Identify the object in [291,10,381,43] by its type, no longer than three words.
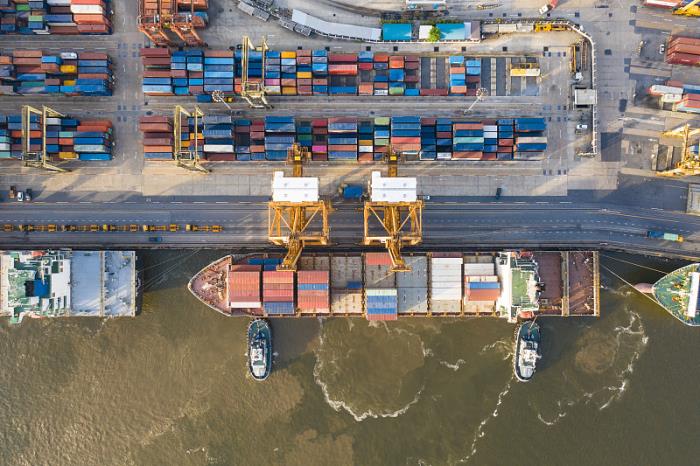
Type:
shed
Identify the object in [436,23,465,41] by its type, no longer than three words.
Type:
building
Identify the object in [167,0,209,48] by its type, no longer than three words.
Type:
container crane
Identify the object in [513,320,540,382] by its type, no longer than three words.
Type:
boat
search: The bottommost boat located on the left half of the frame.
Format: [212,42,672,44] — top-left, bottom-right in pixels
[247,318,273,381]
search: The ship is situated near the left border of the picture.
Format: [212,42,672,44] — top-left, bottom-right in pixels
[0,249,145,325]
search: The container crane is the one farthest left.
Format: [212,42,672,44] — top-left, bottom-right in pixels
[16,105,68,173]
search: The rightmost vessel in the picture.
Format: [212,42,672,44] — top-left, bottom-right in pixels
[635,266,700,325]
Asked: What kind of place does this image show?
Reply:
port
